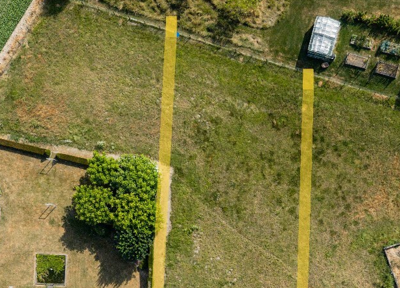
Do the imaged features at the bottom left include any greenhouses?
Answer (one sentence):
No, there's no greenhouse to be seen at the bottom left.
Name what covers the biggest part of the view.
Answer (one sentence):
What you mostly see from above here is grass.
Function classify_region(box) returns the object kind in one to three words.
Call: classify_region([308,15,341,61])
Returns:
greenhouse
